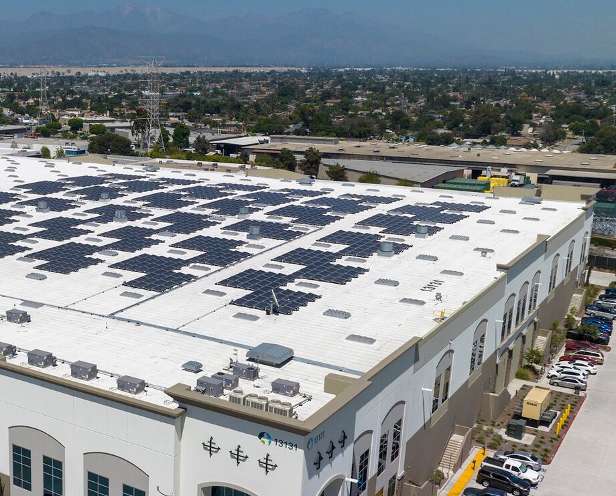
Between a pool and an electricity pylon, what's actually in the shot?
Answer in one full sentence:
Looking from above, you can make out an electricity pylon.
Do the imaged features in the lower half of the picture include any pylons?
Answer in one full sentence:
No, there is no pylon in the lower half of the picture.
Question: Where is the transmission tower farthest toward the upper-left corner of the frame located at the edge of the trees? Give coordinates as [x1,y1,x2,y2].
[33,57,54,117]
